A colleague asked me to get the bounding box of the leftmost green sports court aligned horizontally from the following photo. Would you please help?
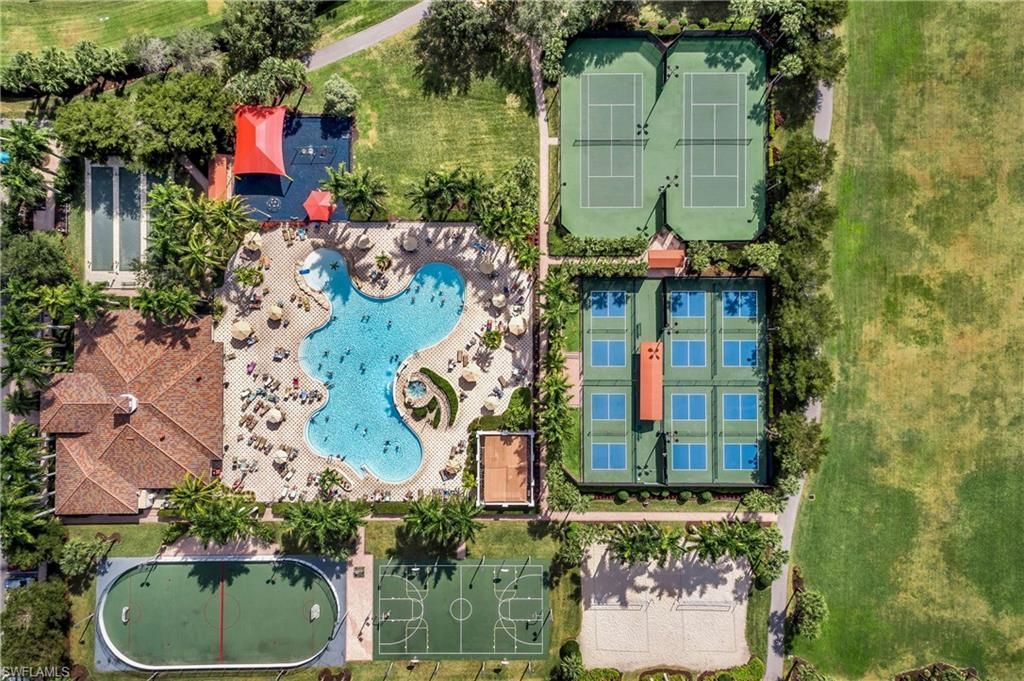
[97,561,338,668]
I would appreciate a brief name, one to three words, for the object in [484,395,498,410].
umbrella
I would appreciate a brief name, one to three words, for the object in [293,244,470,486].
swimming pool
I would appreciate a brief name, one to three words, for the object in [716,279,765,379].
sports court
